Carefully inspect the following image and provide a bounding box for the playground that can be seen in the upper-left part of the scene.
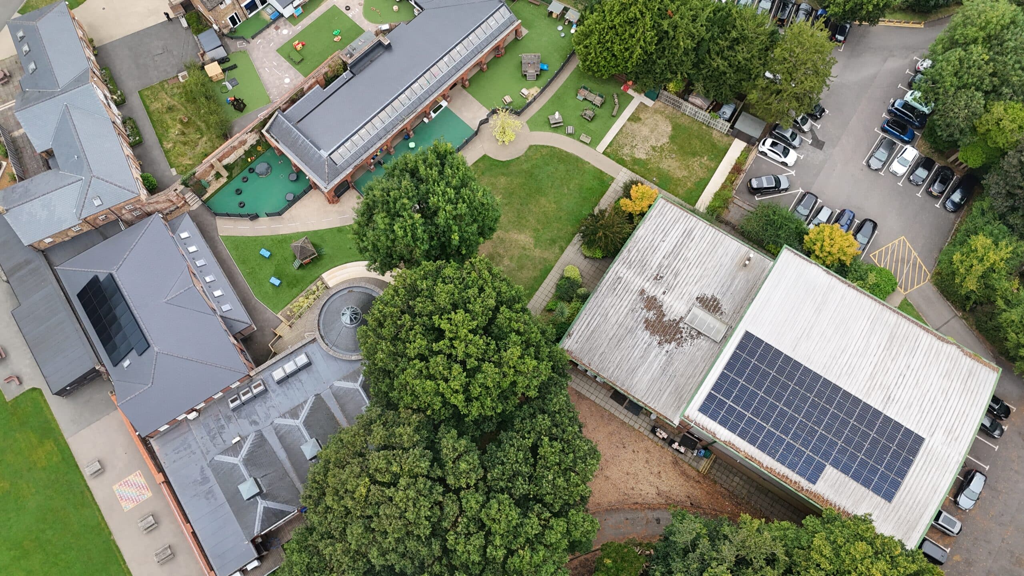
[197,0,343,116]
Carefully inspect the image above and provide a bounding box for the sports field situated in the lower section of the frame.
[0,387,131,576]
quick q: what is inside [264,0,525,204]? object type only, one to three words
building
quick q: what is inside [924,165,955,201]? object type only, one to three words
car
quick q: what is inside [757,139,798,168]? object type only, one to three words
car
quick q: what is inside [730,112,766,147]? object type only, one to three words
shed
